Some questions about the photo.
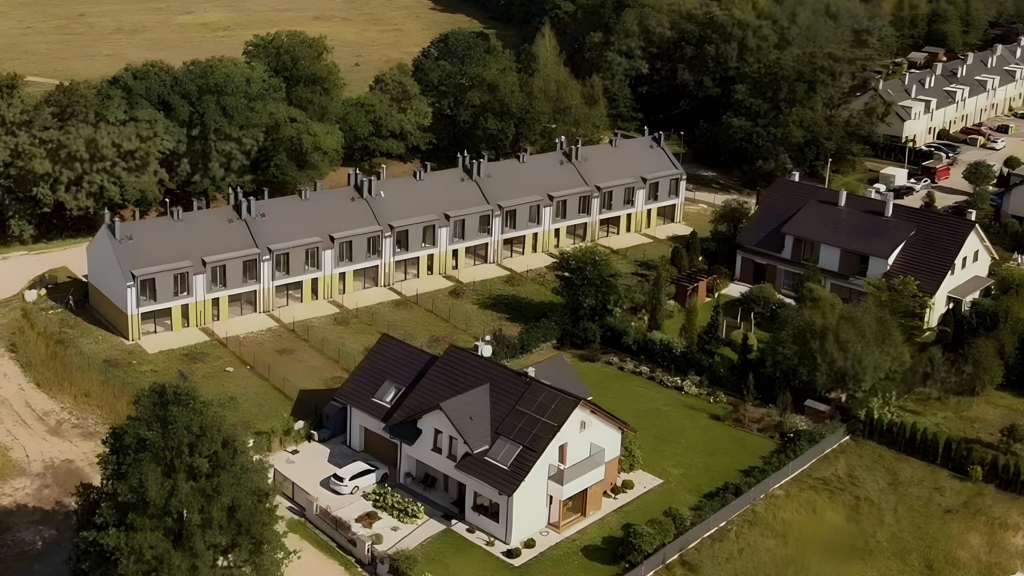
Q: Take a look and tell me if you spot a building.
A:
Yes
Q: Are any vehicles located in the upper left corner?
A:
No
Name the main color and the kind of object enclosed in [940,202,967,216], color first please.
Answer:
black car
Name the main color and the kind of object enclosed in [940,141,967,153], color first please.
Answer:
black vehicle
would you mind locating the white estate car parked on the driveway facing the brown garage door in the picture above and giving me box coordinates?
[331,455,393,491]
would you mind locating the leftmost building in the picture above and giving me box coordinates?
[85,187,269,342]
